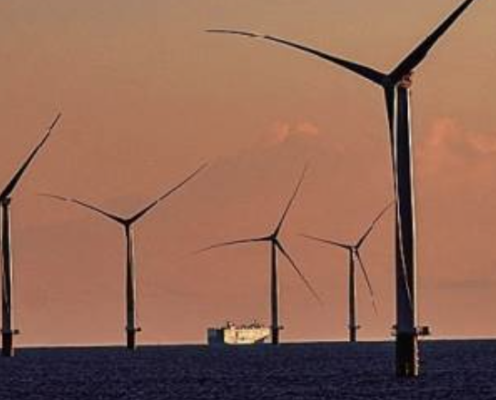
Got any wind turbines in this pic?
Yes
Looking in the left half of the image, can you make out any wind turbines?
Yes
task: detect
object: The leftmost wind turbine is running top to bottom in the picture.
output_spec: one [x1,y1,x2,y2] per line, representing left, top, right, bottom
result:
[0,116,59,355]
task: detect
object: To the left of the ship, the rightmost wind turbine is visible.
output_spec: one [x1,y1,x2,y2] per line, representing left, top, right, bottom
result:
[39,164,206,349]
